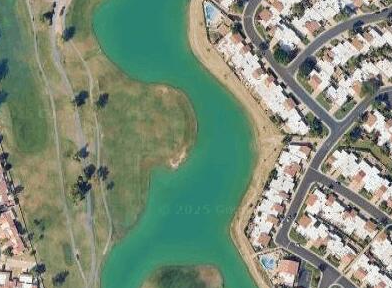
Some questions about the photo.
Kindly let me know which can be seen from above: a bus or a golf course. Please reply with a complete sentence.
Looking from above, you can make out a golf course.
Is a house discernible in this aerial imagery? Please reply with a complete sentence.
Yes, a house appears in the view.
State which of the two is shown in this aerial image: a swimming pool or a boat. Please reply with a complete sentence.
Visible in the photo is a swimming pool.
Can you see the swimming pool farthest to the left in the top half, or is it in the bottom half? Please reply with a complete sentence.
The swimming pool farthest to the left sits in the top half of the picture.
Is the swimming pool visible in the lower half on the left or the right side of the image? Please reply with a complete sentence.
The swimming pool visible in the lower half is on the right side of the image.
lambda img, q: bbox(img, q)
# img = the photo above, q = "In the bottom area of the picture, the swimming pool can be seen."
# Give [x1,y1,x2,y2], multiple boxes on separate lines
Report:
[259,252,282,272]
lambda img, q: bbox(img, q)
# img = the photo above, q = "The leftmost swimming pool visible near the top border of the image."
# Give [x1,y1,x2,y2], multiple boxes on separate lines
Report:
[203,2,228,34]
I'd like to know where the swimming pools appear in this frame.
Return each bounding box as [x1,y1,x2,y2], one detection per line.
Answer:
[203,2,228,34]
[259,252,282,272]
